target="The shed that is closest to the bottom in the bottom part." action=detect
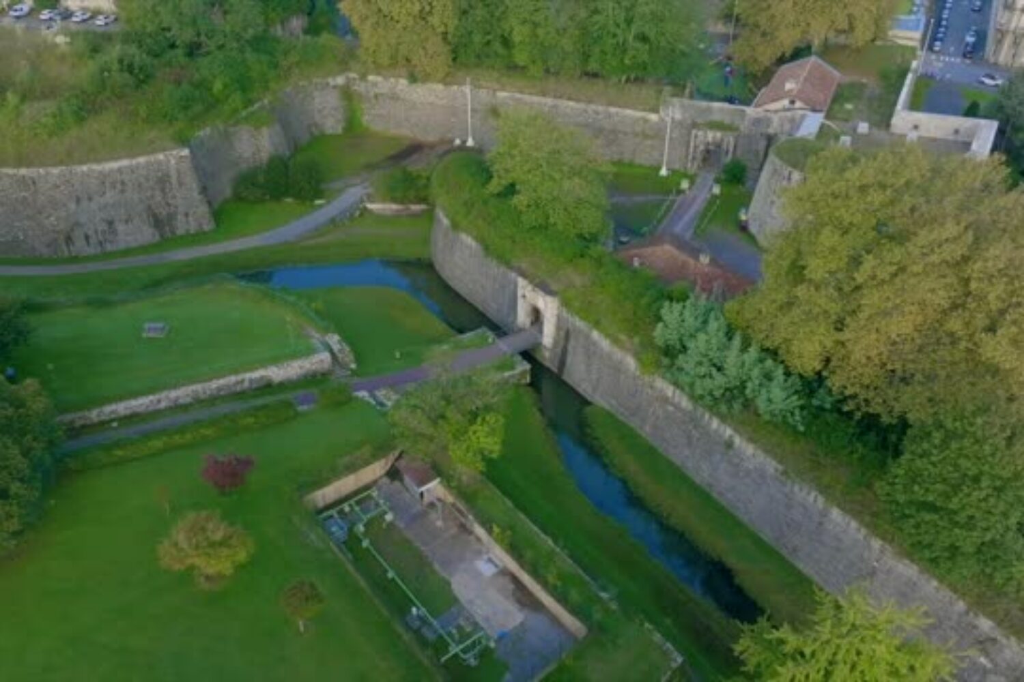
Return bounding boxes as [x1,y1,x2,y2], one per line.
[396,456,442,505]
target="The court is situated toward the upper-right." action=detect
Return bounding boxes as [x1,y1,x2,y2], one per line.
[888,0,927,48]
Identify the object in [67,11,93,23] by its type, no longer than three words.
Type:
vehicle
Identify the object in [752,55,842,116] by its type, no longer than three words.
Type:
house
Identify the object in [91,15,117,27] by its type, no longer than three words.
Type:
vehicle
